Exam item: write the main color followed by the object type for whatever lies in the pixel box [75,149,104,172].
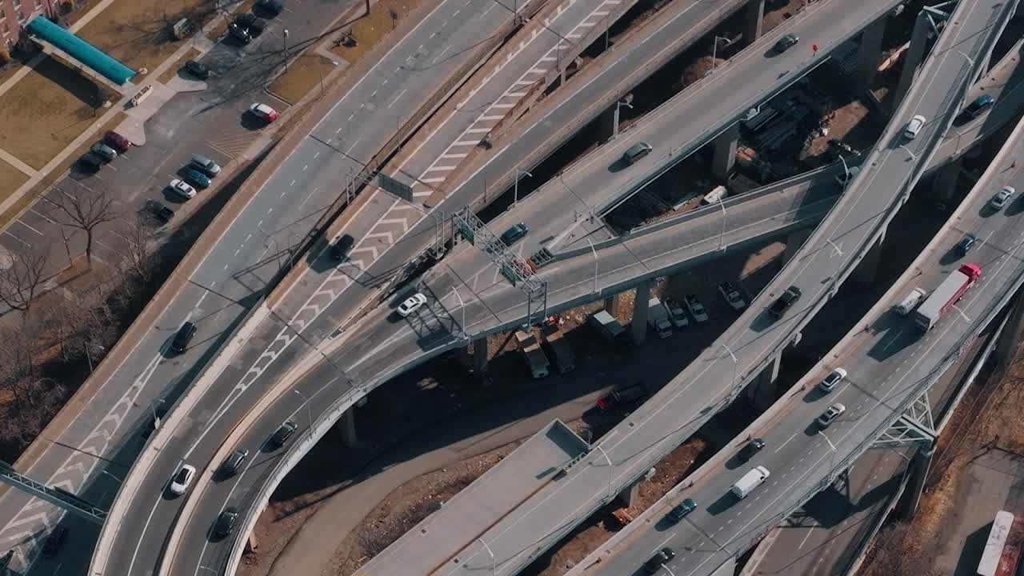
black car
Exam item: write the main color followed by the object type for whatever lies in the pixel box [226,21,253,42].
black car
